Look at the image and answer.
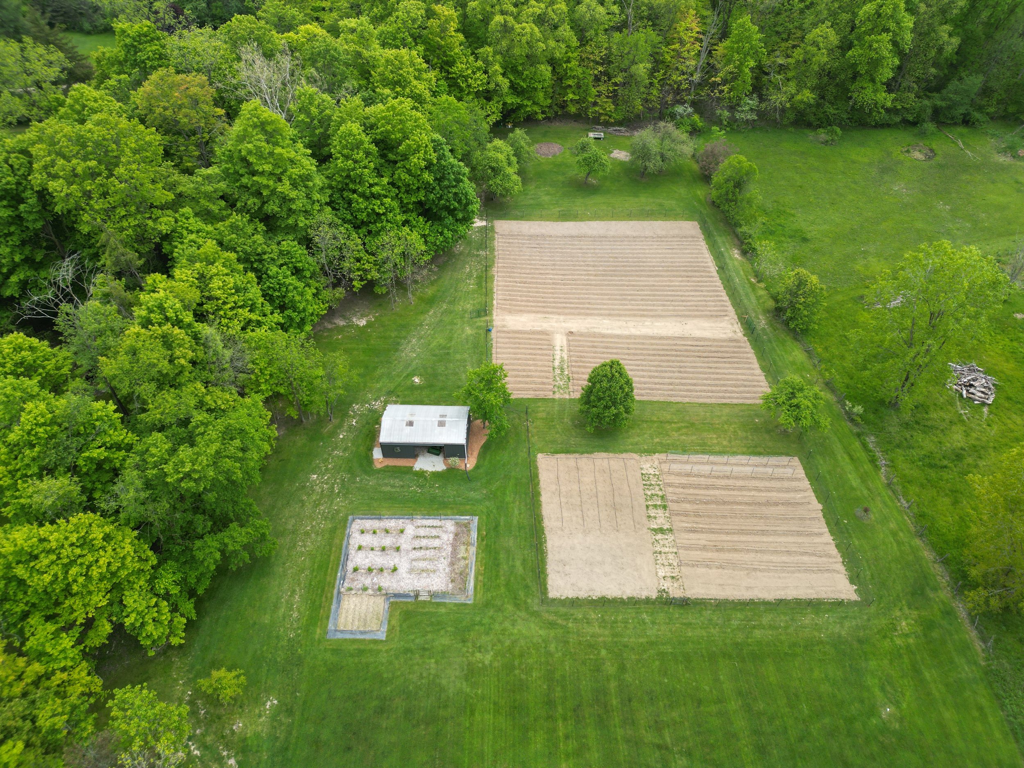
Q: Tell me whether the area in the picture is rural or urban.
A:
rural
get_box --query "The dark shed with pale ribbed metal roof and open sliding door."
[379,403,469,463]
